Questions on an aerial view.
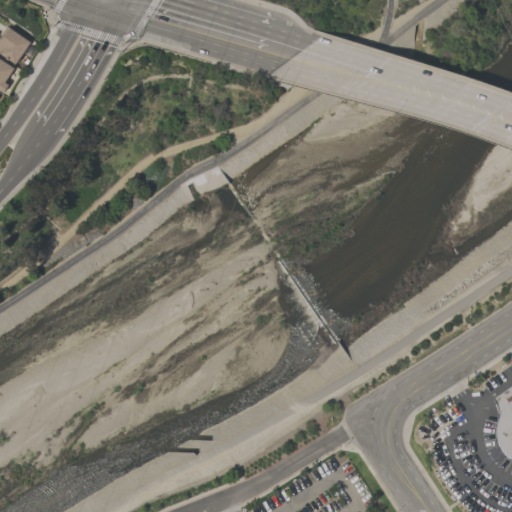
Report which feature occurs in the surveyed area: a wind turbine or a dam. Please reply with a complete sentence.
This aerial view contains a dam.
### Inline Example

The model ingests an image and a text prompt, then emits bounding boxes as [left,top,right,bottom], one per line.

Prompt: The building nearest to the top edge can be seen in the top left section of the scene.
[0,26,29,64]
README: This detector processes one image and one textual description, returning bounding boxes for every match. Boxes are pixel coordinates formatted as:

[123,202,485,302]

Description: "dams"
[220,167,352,359]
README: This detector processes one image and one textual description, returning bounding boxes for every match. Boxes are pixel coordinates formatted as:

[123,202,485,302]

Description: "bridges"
[271,32,512,149]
